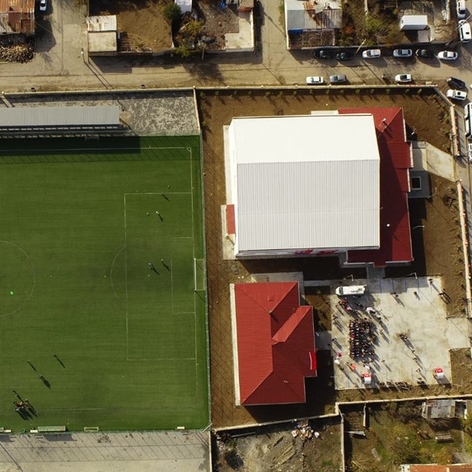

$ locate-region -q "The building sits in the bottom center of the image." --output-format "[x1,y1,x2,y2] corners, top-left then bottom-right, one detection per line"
[234,281,316,405]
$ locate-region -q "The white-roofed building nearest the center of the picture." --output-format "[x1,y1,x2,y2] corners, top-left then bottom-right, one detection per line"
[231,113,379,254]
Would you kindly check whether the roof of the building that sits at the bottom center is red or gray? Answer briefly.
red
